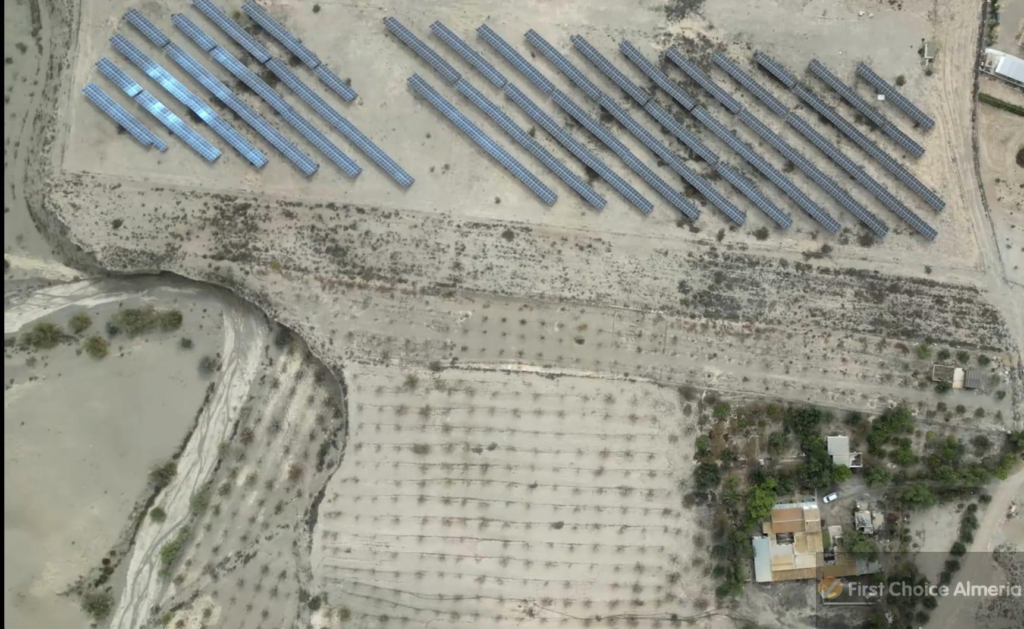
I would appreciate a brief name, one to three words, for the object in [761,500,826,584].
house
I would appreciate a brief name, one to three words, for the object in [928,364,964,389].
shed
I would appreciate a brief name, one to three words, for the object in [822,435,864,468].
house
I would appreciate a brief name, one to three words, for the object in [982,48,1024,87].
barn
